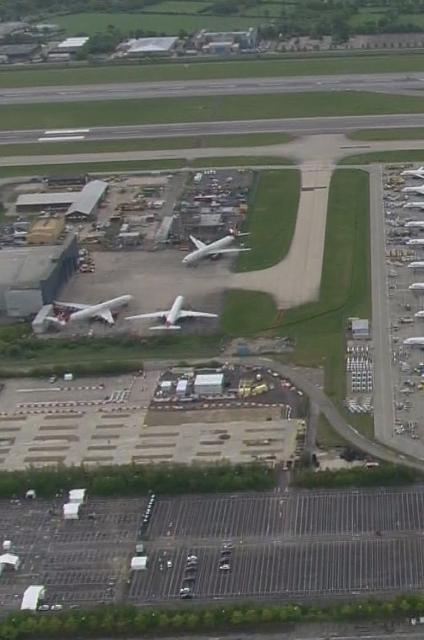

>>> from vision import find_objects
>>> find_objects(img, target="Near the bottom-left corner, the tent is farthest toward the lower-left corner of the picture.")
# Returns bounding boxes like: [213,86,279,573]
[17,581,43,605]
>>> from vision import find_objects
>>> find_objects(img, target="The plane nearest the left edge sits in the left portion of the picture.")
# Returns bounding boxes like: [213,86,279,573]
[53,296,132,325]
